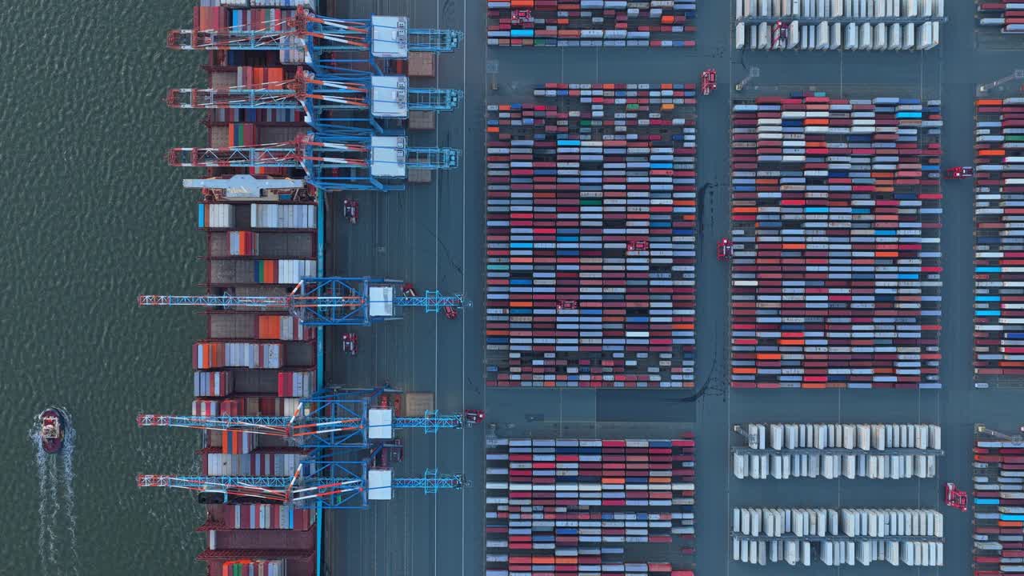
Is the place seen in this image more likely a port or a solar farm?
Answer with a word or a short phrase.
port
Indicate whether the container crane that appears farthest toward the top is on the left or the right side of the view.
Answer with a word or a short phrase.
left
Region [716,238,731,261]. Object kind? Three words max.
work vehicle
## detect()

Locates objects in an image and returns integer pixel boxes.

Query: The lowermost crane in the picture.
[135,434,467,510]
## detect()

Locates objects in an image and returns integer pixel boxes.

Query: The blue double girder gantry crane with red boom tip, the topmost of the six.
[161,8,462,88]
